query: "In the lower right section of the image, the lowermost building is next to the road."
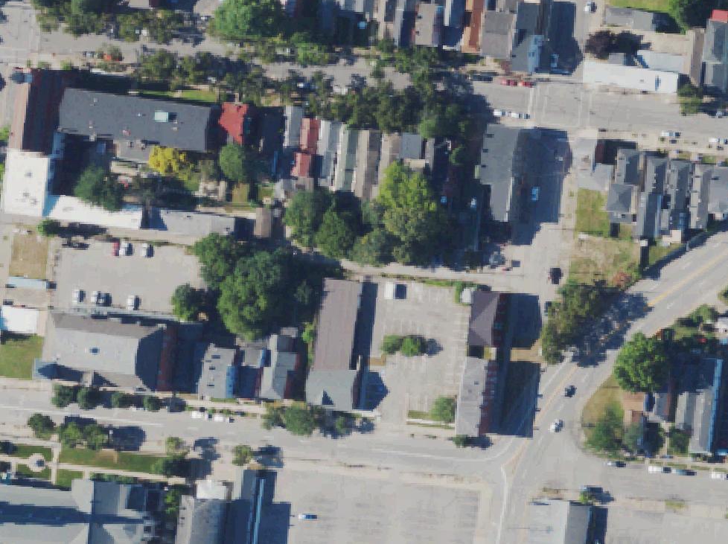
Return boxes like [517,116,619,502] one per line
[526,495,595,544]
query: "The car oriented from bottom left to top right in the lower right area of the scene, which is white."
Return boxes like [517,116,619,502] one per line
[550,417,563,434]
